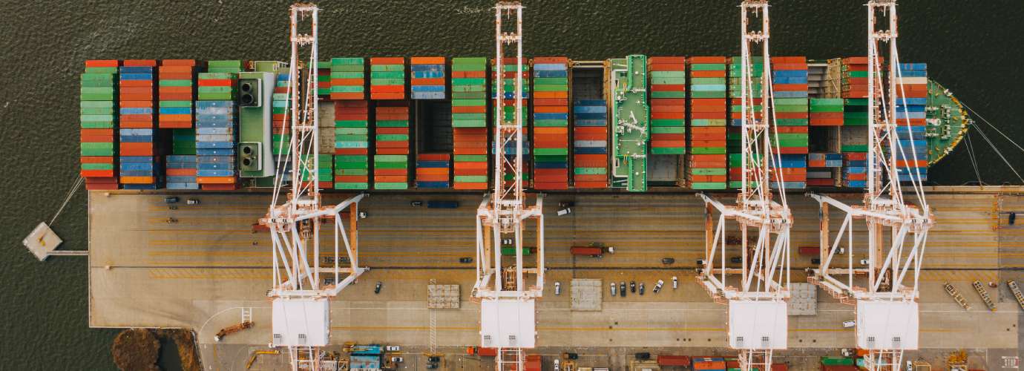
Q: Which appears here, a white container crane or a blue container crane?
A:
white container crane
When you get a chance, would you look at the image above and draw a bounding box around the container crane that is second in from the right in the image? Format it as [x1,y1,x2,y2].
[691,1,798,371]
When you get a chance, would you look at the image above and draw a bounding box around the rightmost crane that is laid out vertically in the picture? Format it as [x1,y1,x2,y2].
[800,1,938,371]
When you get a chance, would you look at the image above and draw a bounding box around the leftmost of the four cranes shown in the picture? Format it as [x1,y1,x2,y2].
[255,1,377,371]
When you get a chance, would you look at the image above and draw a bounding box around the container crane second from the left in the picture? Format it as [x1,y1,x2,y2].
[466,1,552,371]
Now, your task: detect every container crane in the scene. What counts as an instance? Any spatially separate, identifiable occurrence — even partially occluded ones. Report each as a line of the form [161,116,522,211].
[691,1,798,371]
[800,1,938,371]
[466,1,552,371]
[255,1,377,371]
